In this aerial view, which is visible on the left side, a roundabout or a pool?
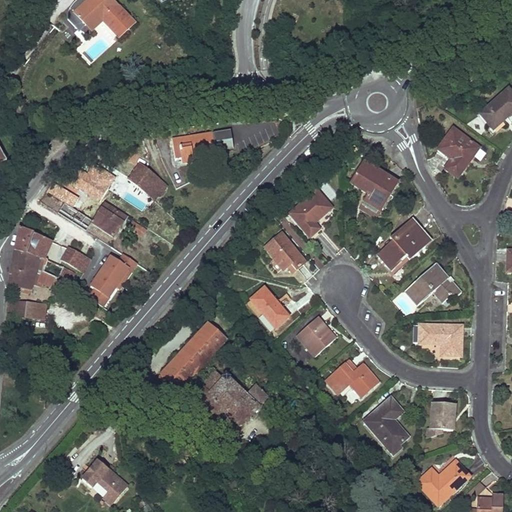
pool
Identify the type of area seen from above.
residential area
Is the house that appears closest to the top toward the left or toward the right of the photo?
left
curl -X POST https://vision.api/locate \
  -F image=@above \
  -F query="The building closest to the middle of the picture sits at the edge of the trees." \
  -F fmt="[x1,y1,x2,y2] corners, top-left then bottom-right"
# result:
[264,230,305,275]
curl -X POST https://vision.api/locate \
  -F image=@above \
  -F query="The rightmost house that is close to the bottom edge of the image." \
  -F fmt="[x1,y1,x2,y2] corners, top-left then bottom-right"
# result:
[470,482,504,512]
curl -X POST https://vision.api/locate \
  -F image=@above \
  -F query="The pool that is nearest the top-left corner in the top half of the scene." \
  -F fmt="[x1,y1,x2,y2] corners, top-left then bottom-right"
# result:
[84,38,108,61]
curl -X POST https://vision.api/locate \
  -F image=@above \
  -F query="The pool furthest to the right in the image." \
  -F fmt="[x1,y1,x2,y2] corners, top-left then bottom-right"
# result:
[396,294,414,314]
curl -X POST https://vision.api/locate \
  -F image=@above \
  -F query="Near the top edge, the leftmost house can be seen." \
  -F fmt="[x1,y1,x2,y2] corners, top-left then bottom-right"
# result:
[68,0,137,40]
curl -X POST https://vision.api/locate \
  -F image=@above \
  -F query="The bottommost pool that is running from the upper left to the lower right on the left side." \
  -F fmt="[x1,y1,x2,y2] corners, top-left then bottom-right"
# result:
[124,192,146,211]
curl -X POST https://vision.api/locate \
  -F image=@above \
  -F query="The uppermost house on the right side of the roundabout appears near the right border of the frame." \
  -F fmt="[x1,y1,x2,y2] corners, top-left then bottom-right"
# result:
[480,84,512,131]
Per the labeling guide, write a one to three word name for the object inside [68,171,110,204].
barn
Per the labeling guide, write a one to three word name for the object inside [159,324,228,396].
building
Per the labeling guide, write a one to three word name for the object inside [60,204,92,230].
shed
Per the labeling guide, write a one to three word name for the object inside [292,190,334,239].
house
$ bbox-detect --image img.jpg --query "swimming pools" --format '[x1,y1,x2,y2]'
[396,294,414,314]
[124,192,146,211]
[84,38,108,61]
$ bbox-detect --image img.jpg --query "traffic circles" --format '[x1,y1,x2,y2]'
[346,72,409,134]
